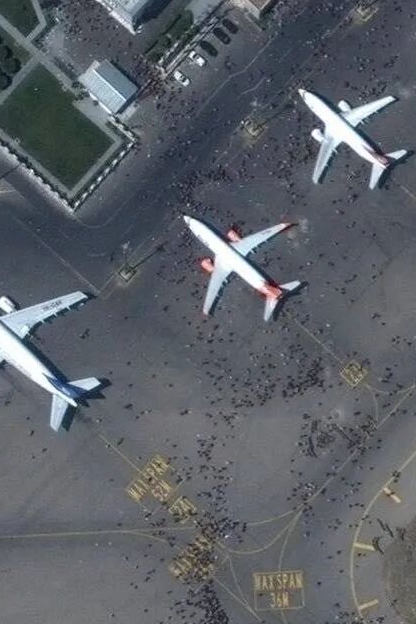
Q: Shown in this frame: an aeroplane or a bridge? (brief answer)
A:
aeroplane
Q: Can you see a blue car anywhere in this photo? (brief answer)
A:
No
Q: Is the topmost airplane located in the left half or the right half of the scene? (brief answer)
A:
right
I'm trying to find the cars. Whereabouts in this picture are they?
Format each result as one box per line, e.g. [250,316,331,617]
[173,71,190,86]
[188,51,206,66]
[212,28,231,44]
[221,19,239,35]
[199,40,218,57]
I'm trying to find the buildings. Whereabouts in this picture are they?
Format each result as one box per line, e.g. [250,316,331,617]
[84,60,139,118]
[90,0,165,39]
[237,0,279,18]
